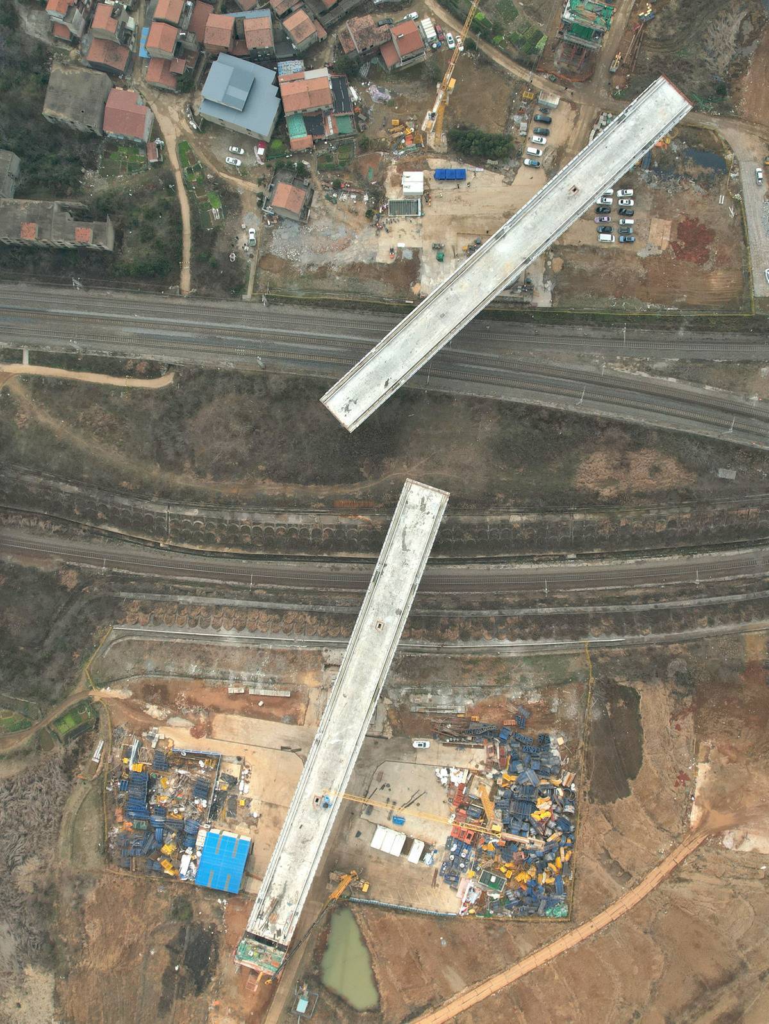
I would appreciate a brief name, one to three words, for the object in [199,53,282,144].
building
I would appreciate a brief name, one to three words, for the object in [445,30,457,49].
vehicle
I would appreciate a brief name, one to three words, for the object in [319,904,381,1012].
pond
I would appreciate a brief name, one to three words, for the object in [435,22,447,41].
vehicle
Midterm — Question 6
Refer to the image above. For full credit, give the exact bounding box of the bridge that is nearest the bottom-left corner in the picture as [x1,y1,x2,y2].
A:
[247,478,449,946]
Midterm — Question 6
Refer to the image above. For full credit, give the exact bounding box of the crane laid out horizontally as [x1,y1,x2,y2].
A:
[324,774,543,849]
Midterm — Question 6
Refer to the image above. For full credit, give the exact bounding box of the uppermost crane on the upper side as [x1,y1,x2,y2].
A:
[424,0,481,155]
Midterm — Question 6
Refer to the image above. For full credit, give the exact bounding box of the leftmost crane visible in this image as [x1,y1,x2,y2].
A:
[267,866,370,985]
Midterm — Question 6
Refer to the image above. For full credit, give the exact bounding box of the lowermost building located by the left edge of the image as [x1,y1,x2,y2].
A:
[0,198,114,254]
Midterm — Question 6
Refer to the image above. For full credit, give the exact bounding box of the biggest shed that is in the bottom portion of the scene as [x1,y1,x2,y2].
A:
[195,823,253,893]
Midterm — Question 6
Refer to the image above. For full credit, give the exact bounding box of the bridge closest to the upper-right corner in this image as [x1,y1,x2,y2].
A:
[321,75,693,431]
